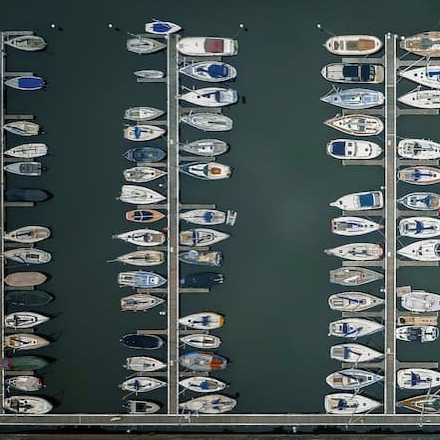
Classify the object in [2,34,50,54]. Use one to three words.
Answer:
boat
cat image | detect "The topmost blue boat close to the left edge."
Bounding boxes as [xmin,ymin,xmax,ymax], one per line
[1,76,53,91]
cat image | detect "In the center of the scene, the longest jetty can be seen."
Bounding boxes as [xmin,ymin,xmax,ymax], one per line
[138,33,222,414]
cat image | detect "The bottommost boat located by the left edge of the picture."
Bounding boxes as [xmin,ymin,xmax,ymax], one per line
[3,393,53,414]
